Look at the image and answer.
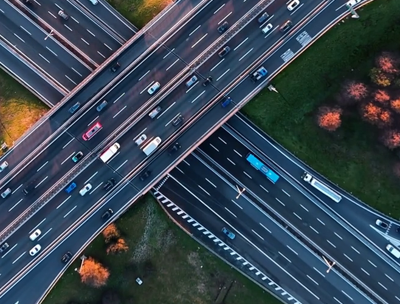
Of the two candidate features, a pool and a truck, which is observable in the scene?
truck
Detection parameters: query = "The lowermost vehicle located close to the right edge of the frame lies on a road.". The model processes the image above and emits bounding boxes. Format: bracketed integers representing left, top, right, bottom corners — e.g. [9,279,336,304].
[385,244,400,260]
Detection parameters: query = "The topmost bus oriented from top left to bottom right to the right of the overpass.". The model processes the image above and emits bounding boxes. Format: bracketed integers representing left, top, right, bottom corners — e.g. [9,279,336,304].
[245,153,279,183]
